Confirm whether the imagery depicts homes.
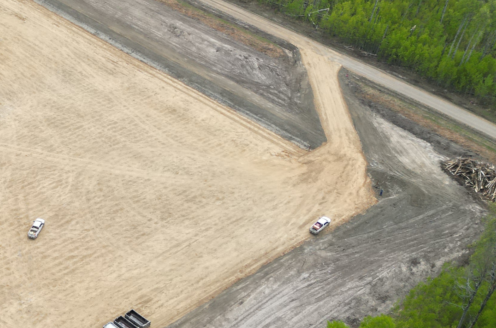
No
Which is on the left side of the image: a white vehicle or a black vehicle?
white vehicle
